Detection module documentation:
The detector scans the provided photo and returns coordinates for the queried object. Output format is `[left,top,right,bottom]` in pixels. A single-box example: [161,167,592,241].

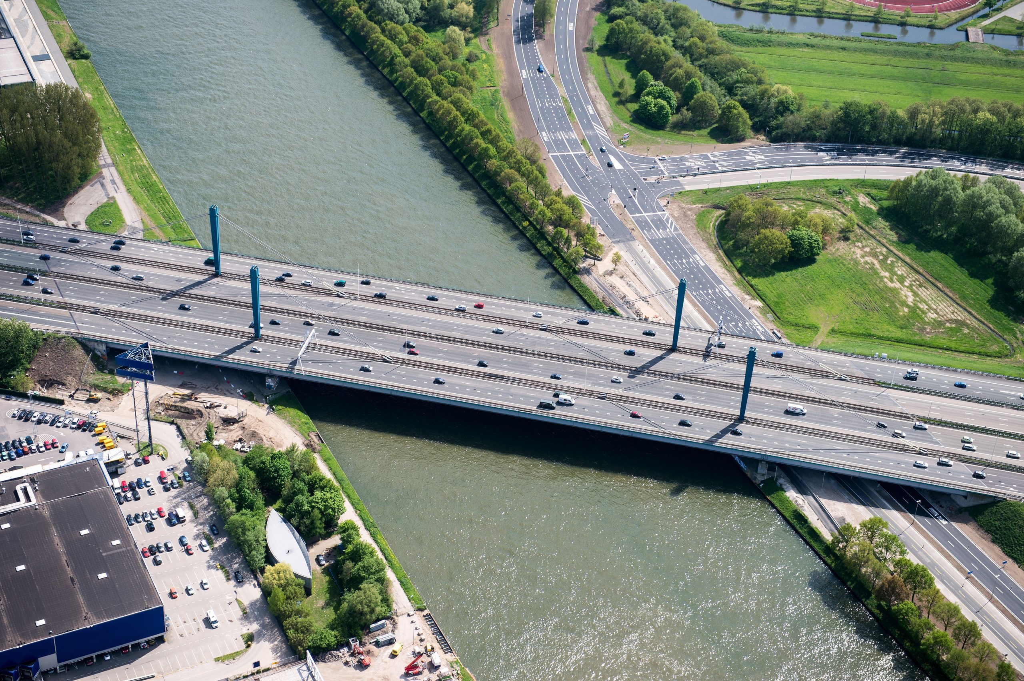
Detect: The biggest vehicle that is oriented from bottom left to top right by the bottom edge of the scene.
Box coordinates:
[405,652,436,679]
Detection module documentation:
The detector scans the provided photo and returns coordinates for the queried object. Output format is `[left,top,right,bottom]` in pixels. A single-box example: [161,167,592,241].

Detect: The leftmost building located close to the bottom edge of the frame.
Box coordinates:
[0,459,174,681]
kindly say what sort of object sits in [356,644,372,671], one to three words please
work vehicle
